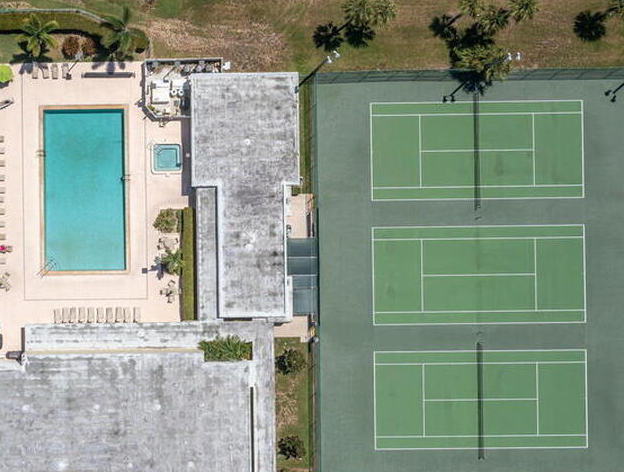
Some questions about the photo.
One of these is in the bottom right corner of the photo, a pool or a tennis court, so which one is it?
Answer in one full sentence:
What appears in the bottom right corner of the photo is a tennis court.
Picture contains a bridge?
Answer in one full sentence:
No, no bridge can be seen from above.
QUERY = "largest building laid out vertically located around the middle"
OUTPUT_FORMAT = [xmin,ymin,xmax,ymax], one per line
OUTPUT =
[191,72,301,323]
